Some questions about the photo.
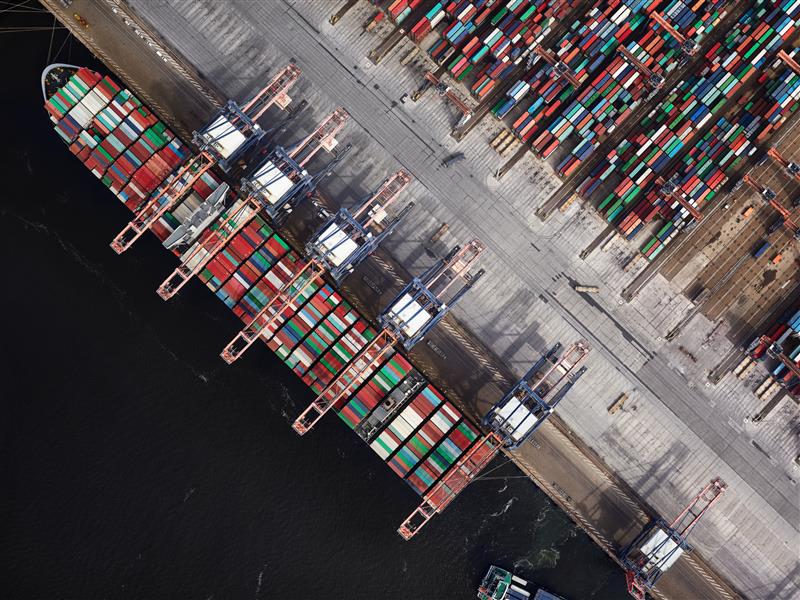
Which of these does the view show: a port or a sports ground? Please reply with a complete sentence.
It's a port.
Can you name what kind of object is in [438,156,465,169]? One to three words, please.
vehicle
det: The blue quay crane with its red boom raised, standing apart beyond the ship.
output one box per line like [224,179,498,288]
[610,470,737,600]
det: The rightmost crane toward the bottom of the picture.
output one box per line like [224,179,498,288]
[738,327,800,394]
